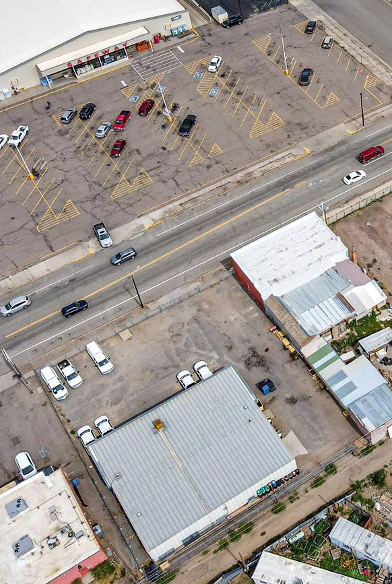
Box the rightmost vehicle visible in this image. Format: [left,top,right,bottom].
[357,145,386,162]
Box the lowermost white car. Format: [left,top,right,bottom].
[15,450,38,481]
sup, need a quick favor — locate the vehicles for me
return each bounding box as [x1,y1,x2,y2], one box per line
[59,107,78,124]
[178,114,198,136]
[59,299,91,318]
[55,357,81,388]
[221,14,244,29]
[137,98,156,117]
[43,364,67,398]
[77,101,99,120]
[357,145,386,162]
[87,339,113,371]
[76,422,96,456]
[0,294,32,315]
[110,245,138,266]
[15,450,38,481]
[194,359,213,379]
[296,66,315,85]
[94,121,114,139]
[109,138,129,158]
[302,18,319,35]
[7,125,32,147]
[92,222,113,247]
[177,368,196,388]
[94,411,114,435]
[342,170,368,185]
[0,134,11,148]
[112,109,134,132]
[208,56,223,72]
